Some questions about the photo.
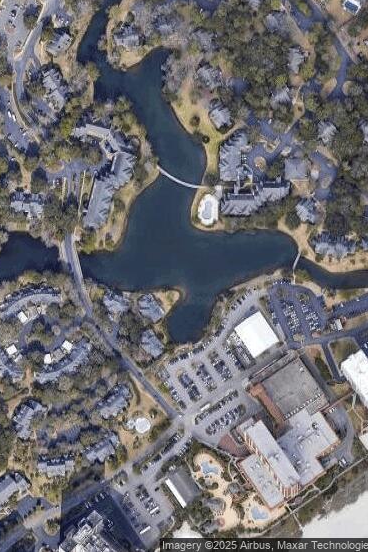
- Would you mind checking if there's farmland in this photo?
No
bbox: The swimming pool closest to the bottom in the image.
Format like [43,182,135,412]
[193,452,286,531]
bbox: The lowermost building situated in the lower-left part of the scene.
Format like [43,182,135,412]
[55,511,126,552]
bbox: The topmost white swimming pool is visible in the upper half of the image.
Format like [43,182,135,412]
[198,192,220,225]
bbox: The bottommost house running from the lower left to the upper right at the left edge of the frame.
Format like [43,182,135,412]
[0,467,33,510]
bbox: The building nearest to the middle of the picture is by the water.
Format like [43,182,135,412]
[137,292,167,324]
